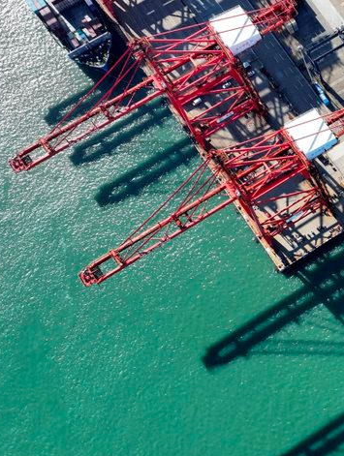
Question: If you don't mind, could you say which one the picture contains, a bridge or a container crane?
container crane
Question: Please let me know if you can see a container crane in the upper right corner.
Yes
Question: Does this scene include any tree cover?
No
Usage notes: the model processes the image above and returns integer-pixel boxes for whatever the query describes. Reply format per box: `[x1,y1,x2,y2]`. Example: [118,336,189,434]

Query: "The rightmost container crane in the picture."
[296,14,344,83]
